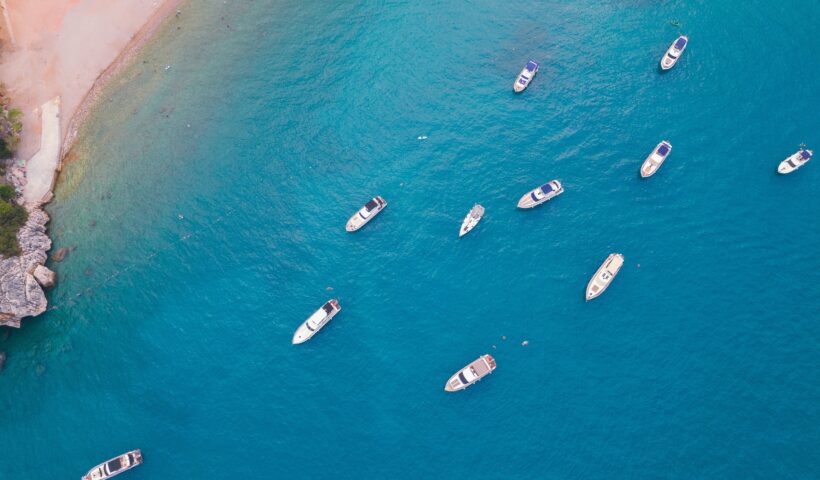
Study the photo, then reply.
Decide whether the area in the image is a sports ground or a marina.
marina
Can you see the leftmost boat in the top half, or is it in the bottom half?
bottom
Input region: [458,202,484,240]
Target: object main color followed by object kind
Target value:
white boat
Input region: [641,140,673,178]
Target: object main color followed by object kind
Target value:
white boat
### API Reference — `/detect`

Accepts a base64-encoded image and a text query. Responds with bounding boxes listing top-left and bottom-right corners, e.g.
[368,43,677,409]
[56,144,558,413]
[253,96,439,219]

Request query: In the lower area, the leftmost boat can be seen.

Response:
[80,450,143,480]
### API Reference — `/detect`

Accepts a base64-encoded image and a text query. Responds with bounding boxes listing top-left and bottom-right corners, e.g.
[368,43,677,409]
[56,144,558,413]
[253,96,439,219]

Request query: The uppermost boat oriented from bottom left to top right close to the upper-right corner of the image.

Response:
[661,33,689,70]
